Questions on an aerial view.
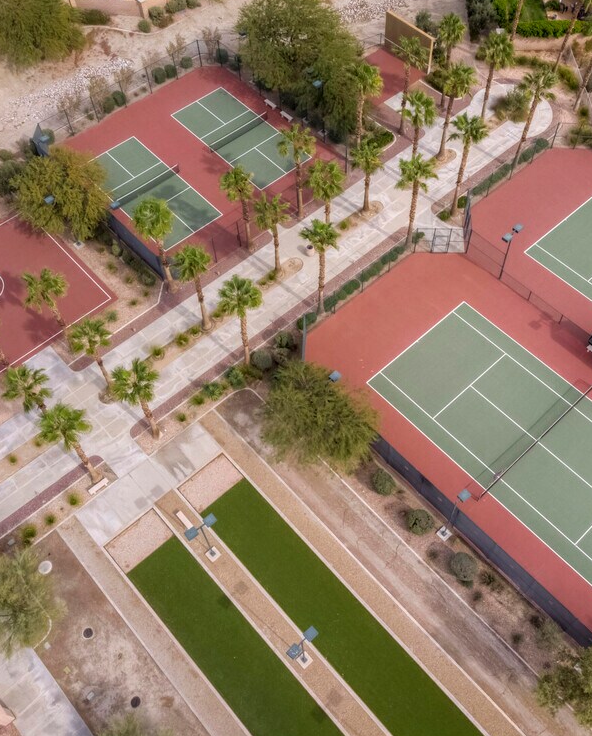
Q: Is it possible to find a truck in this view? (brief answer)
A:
No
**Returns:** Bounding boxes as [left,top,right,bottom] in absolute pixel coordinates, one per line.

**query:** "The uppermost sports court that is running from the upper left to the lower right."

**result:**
[171,87,311,189]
